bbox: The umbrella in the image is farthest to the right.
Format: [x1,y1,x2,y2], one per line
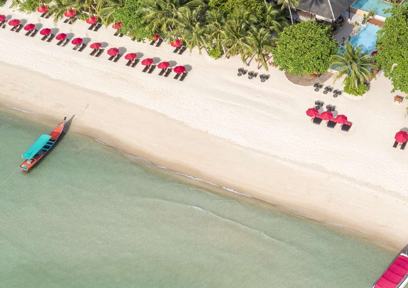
[393,131,408,148]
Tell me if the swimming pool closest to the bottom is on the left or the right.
right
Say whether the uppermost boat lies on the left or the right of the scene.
left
